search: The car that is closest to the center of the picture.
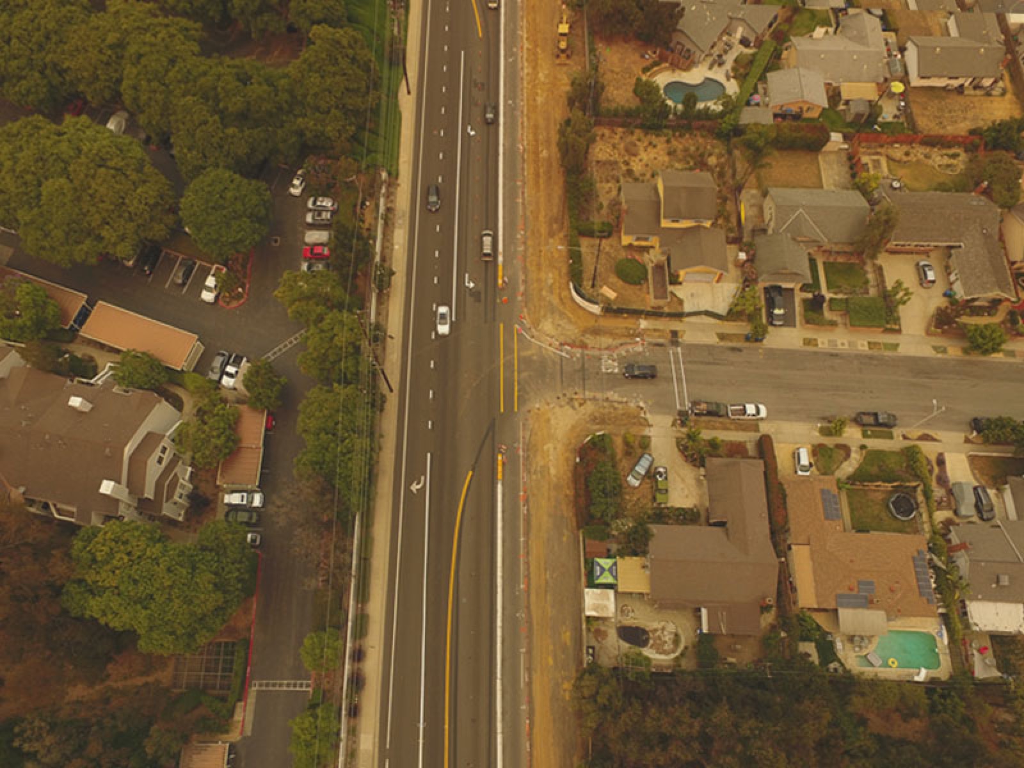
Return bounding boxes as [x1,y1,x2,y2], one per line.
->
[435,304,450,336]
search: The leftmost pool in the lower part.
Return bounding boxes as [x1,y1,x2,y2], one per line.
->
[614,622,653,649]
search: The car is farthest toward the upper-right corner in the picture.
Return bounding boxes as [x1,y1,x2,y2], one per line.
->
[917,260,938,288]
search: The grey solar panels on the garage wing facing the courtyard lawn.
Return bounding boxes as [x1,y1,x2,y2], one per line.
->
[821,490,840,521]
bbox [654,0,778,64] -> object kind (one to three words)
house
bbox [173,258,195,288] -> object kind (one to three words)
car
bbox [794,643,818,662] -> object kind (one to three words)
shed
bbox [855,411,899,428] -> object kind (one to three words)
vehicle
